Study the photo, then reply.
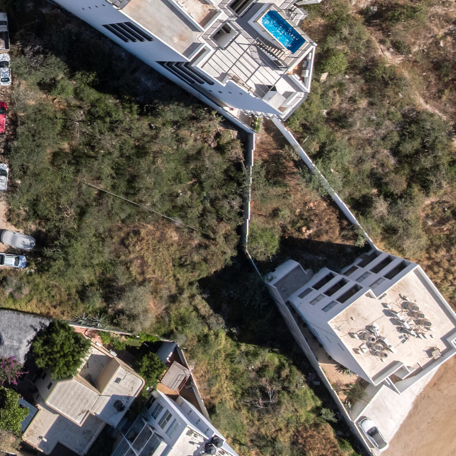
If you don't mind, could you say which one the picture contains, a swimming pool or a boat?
swimming pool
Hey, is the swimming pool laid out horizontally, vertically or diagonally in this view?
diagonally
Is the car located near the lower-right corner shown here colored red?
No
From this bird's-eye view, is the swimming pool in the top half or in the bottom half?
top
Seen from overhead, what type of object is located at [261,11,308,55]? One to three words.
swimming pool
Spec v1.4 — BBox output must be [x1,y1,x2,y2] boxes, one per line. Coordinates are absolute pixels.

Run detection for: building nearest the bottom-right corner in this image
[255,245,456,394]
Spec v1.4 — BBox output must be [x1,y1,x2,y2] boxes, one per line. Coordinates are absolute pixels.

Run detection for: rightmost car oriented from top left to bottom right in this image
[358,416,392,455]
